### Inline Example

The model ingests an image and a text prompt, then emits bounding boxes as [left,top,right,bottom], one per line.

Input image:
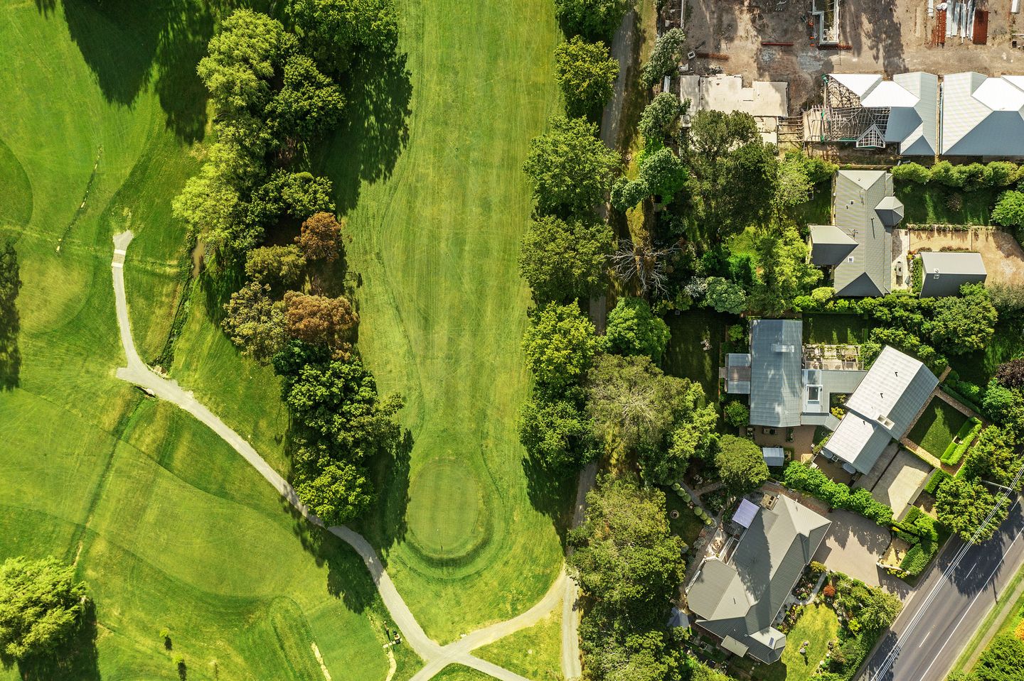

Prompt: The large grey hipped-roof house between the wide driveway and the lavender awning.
[685,494,832,665]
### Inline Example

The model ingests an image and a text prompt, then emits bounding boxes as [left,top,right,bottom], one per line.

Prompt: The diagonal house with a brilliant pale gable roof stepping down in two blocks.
[824,345,940,475]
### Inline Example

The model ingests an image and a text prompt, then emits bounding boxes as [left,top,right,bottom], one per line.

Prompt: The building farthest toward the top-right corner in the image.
[937,71,1024,156]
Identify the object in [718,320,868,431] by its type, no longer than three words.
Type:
house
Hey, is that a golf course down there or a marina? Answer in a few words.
golf course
